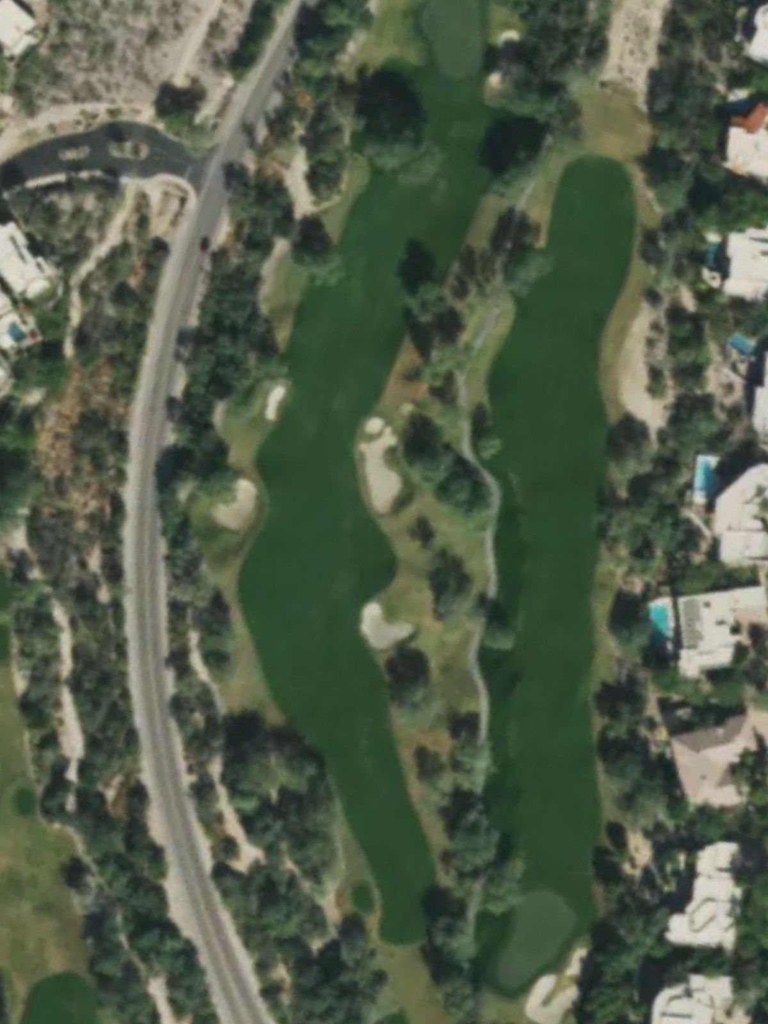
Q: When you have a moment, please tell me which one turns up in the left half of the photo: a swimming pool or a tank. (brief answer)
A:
swimming pool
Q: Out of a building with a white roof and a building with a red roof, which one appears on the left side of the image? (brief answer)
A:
building with a white roof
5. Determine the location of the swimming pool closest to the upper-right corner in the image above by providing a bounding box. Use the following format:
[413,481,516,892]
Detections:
[704,234,721,267]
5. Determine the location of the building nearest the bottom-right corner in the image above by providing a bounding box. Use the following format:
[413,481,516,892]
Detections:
[652,975,752,1024]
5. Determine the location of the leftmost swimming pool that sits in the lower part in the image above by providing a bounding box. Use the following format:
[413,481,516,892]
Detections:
[649,596,677,648]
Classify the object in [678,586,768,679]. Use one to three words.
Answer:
house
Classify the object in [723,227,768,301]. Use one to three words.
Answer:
house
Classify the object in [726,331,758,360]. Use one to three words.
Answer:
swimming pool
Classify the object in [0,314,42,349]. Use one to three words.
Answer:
swimming pool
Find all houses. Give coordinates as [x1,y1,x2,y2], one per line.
[714,464,768,566]
[678,586,768,679]
[726,103,768,181]
[0,0,37,56]
[749,1,768,62]
[0,292,15,320]
[0,221,49,297]
[666,842,743,953]
[723,227,768,301]
[672,714,758,808]
[753,352,768,442]
[652,975,752,1024]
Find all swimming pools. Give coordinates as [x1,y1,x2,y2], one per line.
[0,314,42,349]
[693,455,719,504]
[726,331,758,360]
[649,596,677,648]
[704,234,721,267]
